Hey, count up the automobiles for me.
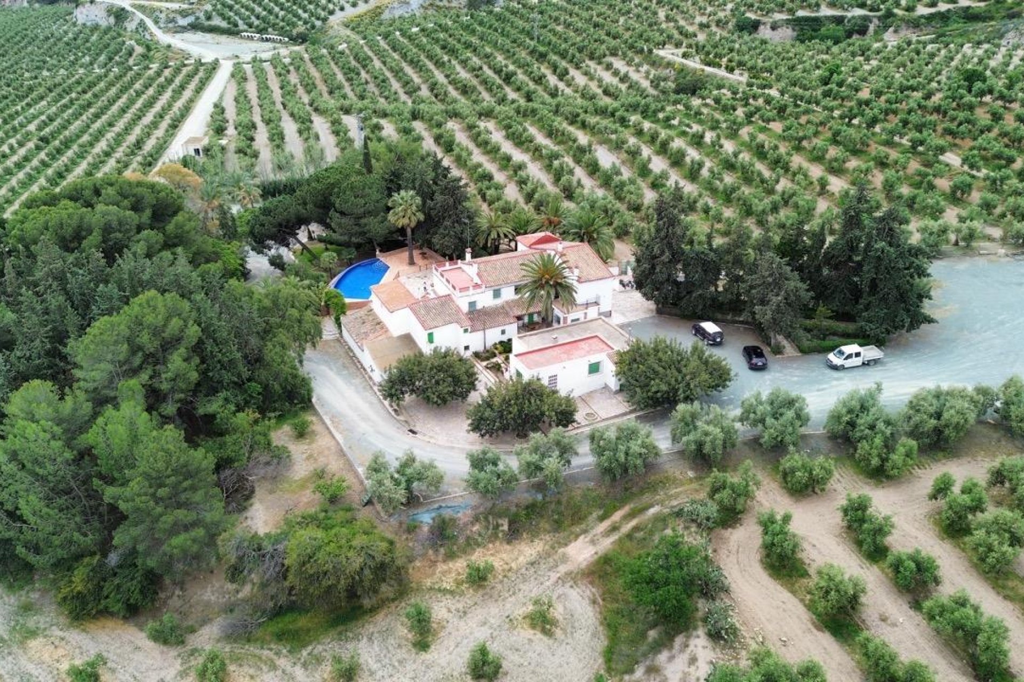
2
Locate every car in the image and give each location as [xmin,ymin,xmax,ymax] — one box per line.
[742,349,767,371]
[693,323,726,347]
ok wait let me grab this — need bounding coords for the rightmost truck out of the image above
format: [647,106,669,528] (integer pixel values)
[827,343,887,370]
